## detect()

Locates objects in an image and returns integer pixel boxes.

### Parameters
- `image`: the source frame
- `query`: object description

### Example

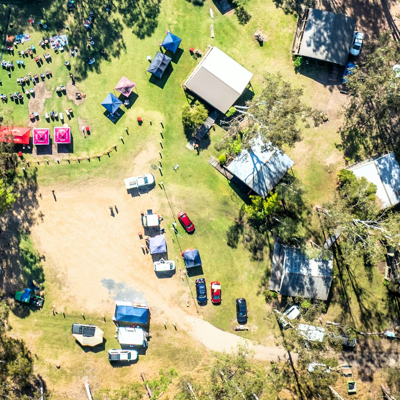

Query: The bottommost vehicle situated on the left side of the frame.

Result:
[110,349,136,362]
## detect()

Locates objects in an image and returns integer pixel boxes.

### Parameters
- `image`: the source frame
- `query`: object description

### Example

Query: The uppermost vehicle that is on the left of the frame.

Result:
[126,174,153,189]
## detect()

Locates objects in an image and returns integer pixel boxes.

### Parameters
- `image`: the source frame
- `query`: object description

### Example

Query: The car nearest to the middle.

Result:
[178,211,194,233]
